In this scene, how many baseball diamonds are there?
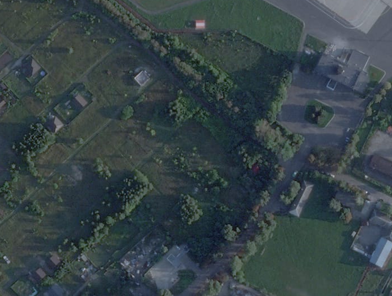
0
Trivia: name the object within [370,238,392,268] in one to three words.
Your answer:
building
